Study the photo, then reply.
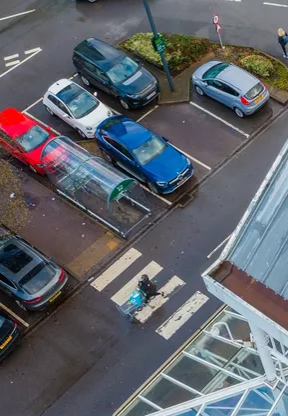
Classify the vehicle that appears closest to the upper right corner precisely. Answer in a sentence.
I'd identify the vehicle that appears closest to the upper right corner as a car.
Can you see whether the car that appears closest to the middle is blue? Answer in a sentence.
Yes, blue is the color of the car that appears closest to the middle.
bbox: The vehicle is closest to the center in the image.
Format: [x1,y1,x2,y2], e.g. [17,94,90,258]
[87,114,192,193]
